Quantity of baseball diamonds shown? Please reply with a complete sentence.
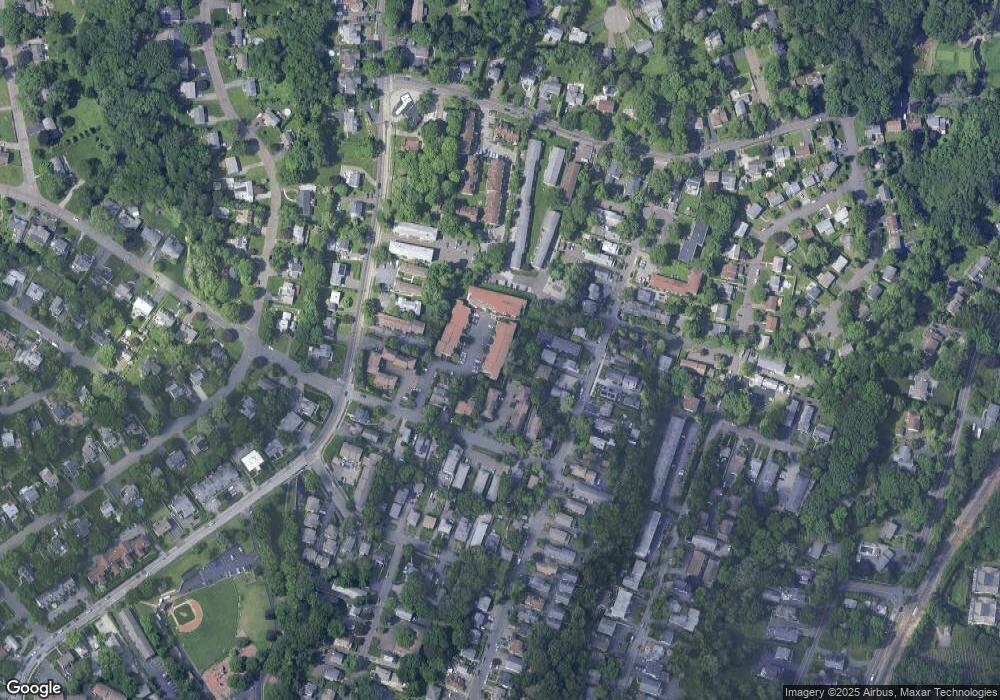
In total, 1 baseball diamond can be seen.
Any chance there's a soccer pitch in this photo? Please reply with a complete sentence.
No, this view has no soccer pitch in it.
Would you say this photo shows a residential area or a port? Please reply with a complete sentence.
What you see here is a residential area.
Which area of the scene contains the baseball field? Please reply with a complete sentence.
The baseball field sits in the bottom left section of the image.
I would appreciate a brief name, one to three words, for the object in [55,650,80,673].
house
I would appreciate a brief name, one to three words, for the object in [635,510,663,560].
building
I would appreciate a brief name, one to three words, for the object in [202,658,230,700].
playground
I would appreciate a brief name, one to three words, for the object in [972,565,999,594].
building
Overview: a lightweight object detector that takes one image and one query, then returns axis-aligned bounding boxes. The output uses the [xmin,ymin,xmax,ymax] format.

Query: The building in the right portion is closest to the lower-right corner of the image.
[967,595,996,626]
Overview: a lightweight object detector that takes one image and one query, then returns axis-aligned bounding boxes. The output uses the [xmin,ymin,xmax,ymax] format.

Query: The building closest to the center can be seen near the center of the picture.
[481,322,514,380]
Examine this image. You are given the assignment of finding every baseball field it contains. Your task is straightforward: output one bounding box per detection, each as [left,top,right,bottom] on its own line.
[168,577,239,673]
